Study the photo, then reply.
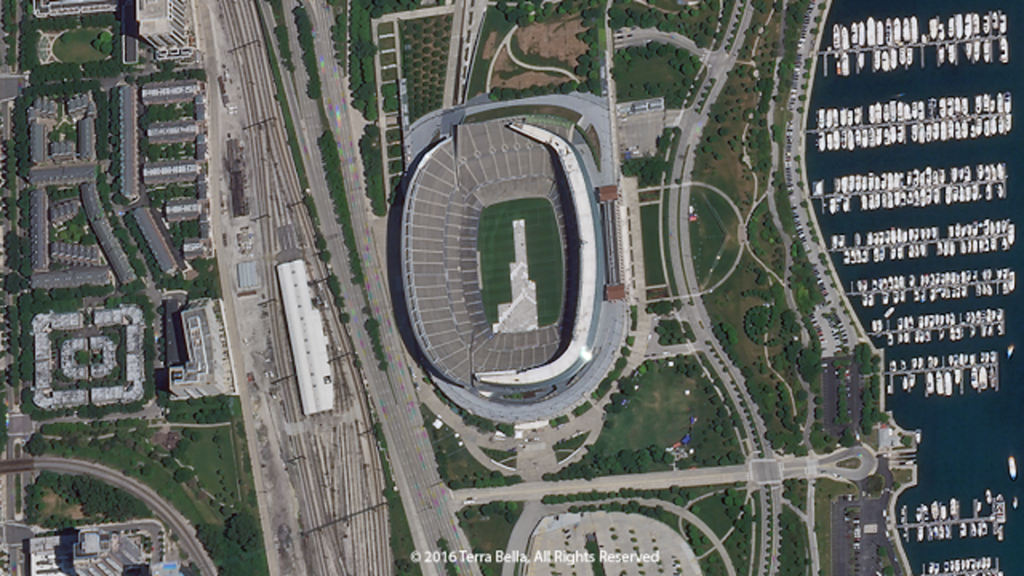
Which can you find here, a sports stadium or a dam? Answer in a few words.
sports stadium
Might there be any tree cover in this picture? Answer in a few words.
Yes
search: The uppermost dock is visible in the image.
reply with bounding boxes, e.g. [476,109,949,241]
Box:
[818,20,1007,77]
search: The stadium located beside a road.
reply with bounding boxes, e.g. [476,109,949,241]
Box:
[400,94,630,421]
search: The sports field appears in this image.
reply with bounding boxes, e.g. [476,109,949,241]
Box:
[477,197,565,333]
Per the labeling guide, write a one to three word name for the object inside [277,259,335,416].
shed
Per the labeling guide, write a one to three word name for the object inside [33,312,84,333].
building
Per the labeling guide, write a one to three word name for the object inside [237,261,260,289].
shed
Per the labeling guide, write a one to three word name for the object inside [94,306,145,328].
building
